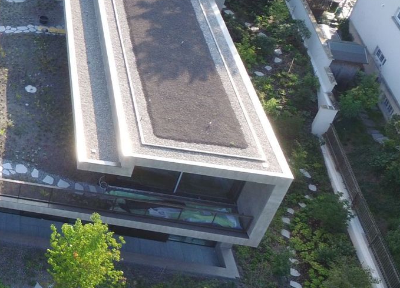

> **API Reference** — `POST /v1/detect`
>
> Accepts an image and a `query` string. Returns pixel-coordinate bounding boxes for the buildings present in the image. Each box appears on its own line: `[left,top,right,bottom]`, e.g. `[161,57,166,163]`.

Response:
[334,43,376,92]
[348,0,400,115]
[61,0,293,247]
